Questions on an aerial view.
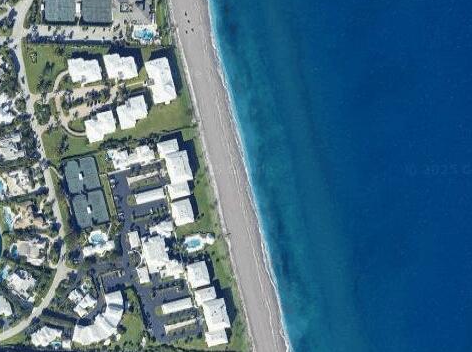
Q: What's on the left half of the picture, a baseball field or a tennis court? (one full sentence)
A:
What appears on the left half of the picture is a tennis court.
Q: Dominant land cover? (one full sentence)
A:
For the most part, this view shows water.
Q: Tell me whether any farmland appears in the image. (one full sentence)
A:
No, farmland can't be seen anywhere here.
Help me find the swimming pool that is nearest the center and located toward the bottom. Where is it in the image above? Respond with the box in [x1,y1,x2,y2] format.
[185,236,204,252]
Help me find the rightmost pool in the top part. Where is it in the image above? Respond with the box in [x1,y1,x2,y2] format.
[133,24,157,45]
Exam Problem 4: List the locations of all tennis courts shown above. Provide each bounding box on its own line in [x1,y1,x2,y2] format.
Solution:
[71,194,93,228]
[78,155,102,191]
[81,0,97,22]
[45,0,60,21]
[87,189,109,224]
[65,160,85,194]
[60,0,74,22]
